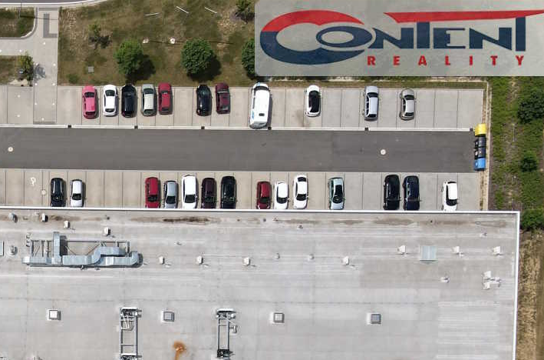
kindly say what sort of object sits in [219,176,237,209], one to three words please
car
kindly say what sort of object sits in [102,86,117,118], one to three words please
car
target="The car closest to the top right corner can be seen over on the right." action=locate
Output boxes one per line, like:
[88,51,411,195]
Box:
[397,90,416,122]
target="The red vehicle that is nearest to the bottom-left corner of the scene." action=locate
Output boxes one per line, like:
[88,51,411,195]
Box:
[144,178,159,209]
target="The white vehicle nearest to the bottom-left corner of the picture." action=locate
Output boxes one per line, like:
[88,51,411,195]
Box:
[69,180,84,208]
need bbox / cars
[362,88,380,122]
[200,179,217,209]
[272,182,290,210]
[181,175,198,209]
[303,86,321,119]
[291,175,308,210]
[326,178,344,210]
[81,86,97,120]
[69,180,84,208]
[50,178,66,208]
[381,175,400,211]
[397,90,416,122]
[195,86,212,118]
[102,86,117,118]
[214,84,230,116]
[140,85,156,118]
[400,175,421,211]
[254,182,271,210]
[219,176,237,209]
[144,178,159,209]
[163,181,179,209]
[121,86,137,119]
[157,84,173,116]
